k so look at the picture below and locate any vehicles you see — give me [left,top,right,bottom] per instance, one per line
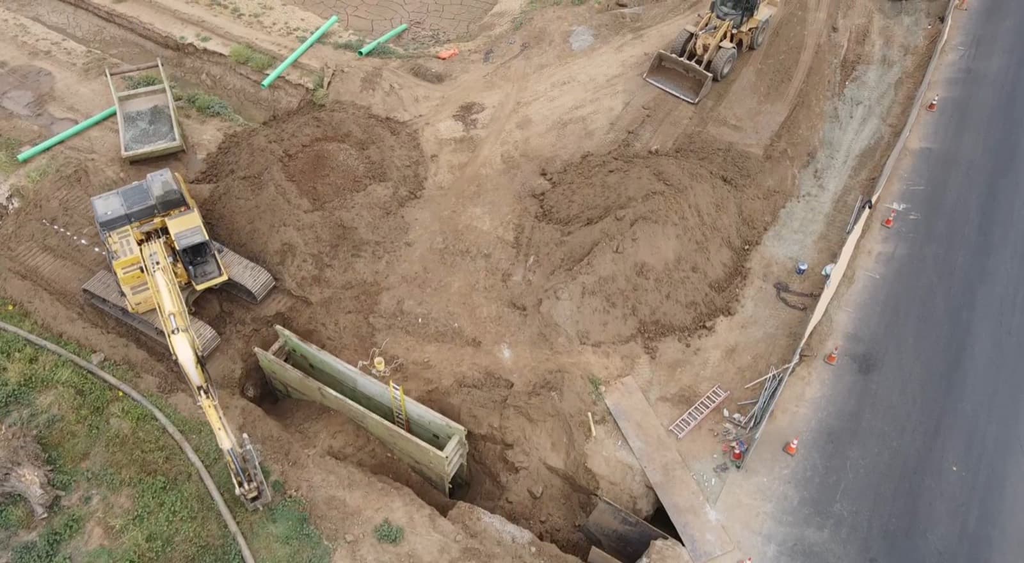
[643,0,789,105]
[77,170,280,508]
